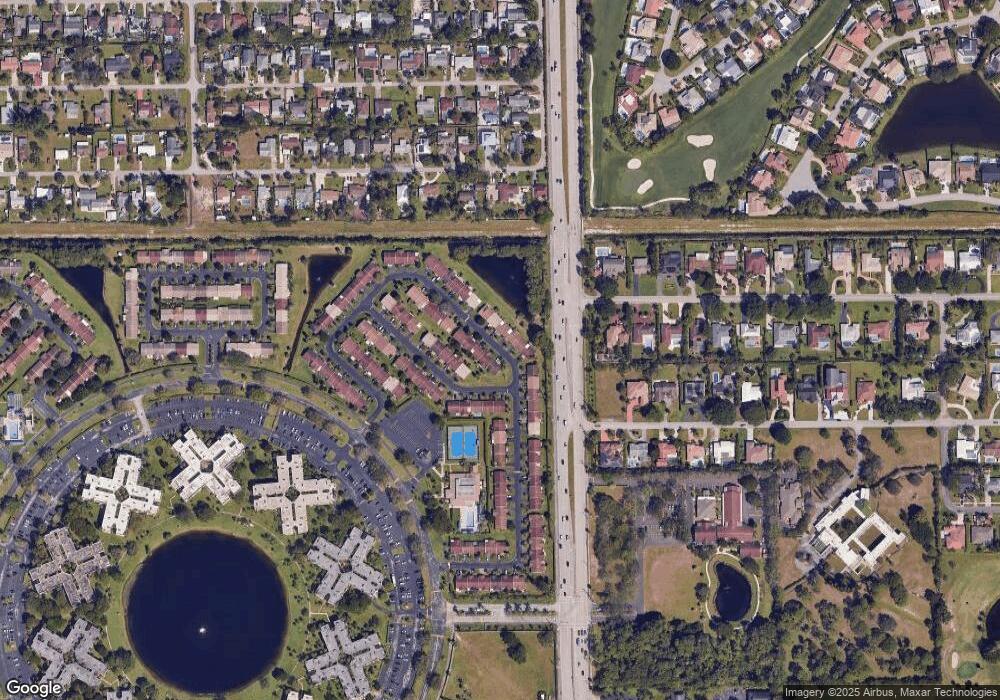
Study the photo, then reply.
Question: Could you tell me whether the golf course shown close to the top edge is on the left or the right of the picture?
right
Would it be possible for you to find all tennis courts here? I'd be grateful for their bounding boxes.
[448,426,463,459]
[463,426,479,459]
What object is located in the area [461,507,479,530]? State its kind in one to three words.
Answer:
swimming pool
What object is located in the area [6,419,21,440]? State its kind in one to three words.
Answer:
swimming pool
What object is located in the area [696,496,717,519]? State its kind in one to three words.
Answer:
building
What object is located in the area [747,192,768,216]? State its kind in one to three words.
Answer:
house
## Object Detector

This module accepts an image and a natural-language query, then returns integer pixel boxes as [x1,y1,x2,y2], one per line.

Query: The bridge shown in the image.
[551,230,583,249]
